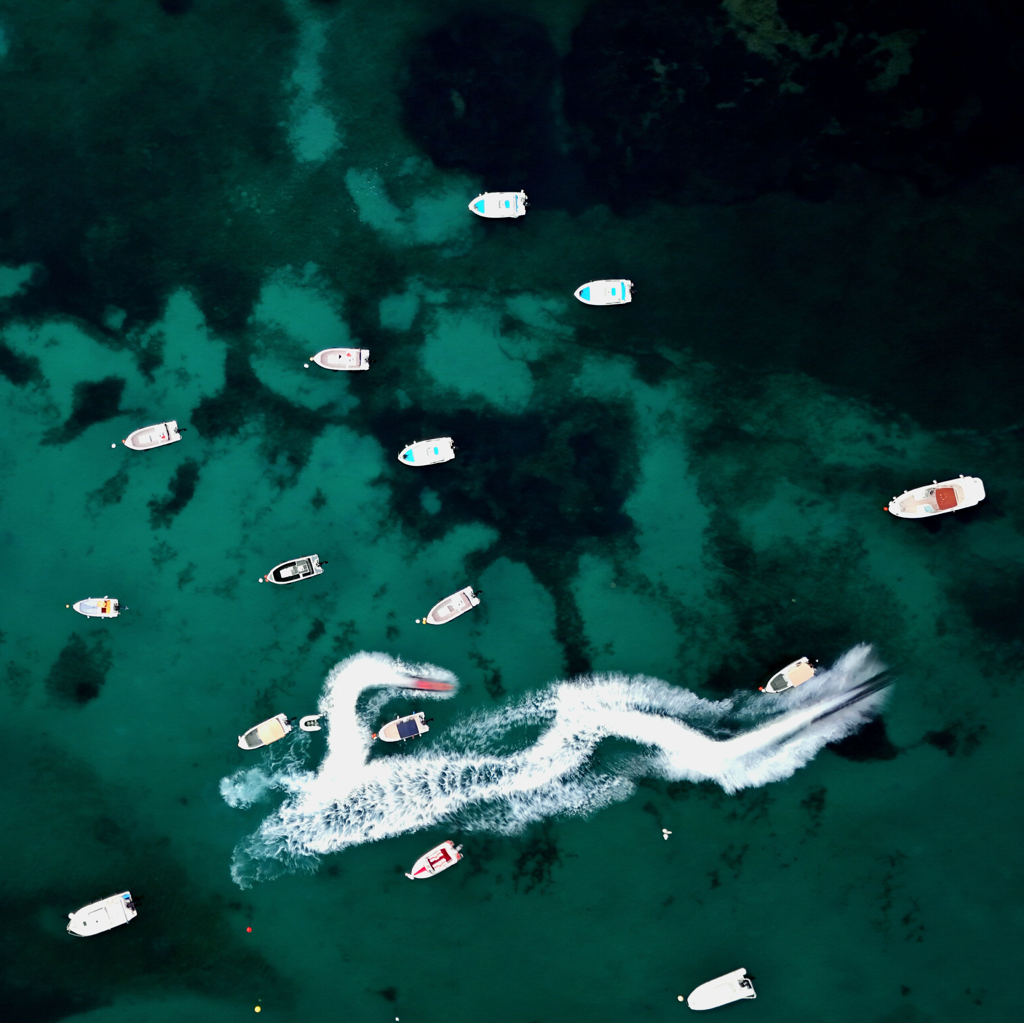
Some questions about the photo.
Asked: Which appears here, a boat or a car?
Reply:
boat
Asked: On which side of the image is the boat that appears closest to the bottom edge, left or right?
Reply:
right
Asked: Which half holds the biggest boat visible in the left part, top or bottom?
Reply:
bottom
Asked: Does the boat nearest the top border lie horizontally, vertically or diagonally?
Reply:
horizontally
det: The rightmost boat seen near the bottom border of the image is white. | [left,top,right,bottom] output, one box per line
[686,968,757,1010]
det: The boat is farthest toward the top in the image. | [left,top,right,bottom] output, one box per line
[468,192,530,218]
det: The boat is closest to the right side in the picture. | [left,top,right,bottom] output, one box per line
[890,478,985,516]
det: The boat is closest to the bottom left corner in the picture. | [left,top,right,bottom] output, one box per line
[67,889,141,937]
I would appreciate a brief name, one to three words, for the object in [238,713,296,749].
boat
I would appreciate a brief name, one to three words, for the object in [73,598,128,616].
boat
